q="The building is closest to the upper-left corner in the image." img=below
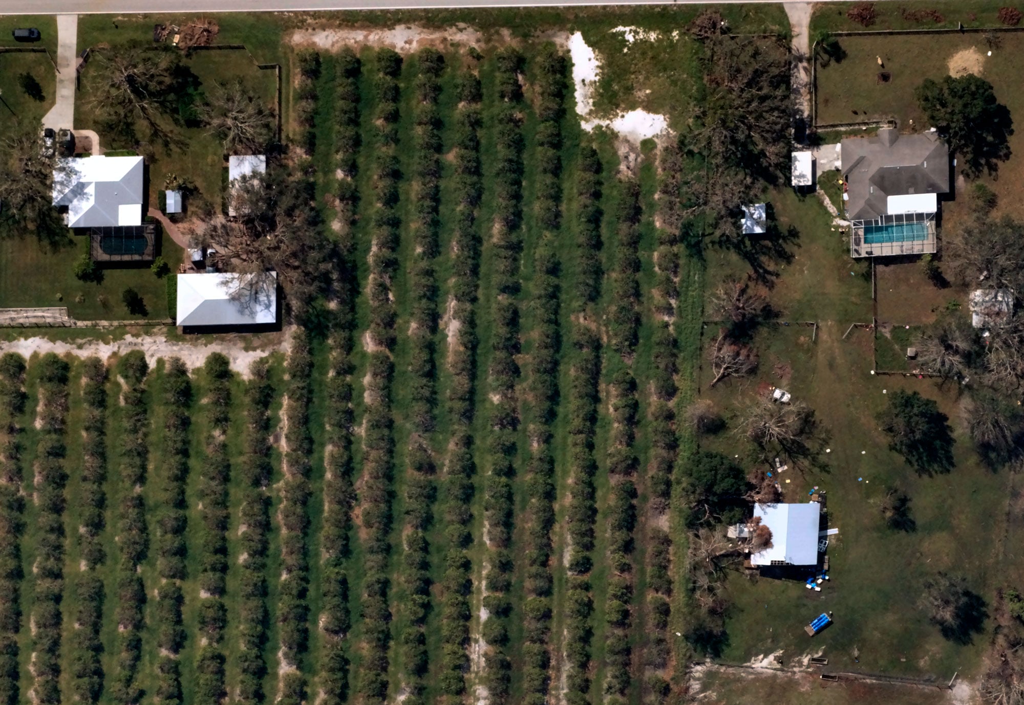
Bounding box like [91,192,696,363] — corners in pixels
[52,155,143,227]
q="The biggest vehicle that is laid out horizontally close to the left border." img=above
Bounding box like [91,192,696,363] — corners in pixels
[12,27,40,40]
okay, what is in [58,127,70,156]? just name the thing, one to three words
vehicle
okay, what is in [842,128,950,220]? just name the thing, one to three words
house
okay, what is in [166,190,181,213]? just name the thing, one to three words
shed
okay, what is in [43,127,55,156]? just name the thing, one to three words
vehicle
